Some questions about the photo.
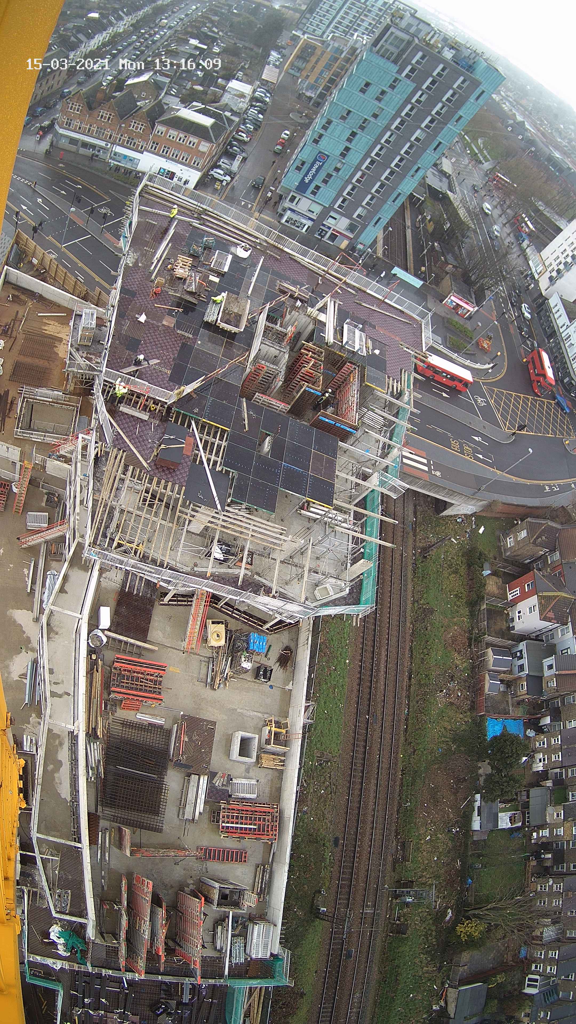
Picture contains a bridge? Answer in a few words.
Yes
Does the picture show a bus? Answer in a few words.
Yes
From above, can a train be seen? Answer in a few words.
No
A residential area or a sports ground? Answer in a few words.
residential area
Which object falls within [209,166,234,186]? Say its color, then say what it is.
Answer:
white car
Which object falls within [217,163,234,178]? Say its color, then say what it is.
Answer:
gray car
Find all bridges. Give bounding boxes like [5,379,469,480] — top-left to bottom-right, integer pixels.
[386,464,492,515]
